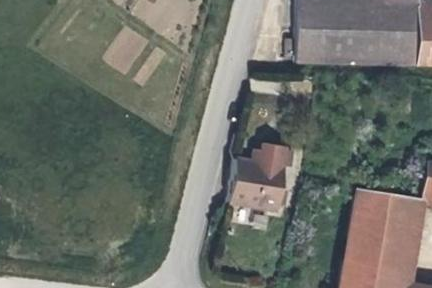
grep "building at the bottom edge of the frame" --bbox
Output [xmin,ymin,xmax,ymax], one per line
[334,188,432,288]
